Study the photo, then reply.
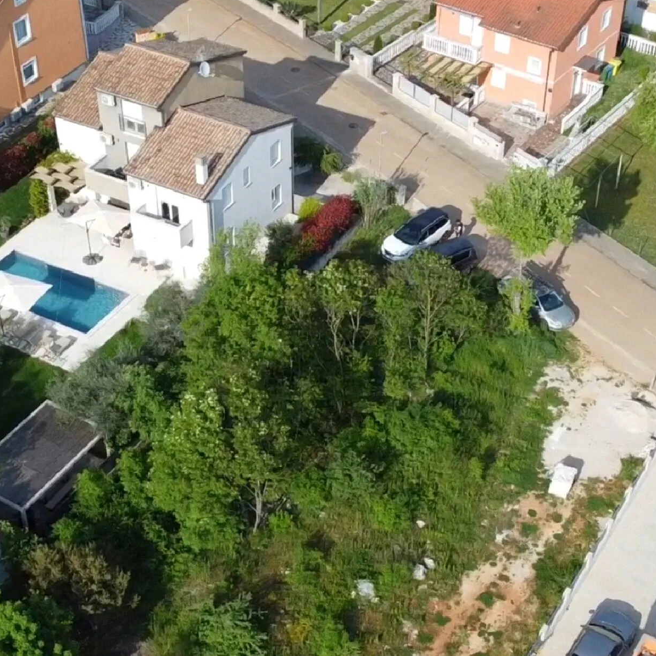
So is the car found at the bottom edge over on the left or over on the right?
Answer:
right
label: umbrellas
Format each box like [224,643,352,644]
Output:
[67,199,131,263]
[0,268,55,313]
